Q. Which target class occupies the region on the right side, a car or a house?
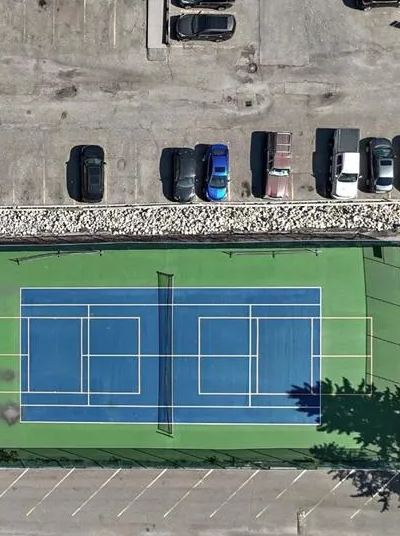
car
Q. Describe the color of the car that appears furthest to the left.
black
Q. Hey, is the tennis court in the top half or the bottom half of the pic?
bottom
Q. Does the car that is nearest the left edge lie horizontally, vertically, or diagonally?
vertically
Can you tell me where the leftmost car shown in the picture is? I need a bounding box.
[79,144,108,203]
